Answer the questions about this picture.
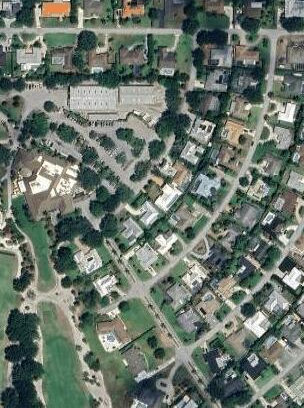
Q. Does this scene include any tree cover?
Yes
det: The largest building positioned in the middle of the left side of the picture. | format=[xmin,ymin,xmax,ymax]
[12,146,87,224]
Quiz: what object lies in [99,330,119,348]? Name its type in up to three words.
swimming pool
